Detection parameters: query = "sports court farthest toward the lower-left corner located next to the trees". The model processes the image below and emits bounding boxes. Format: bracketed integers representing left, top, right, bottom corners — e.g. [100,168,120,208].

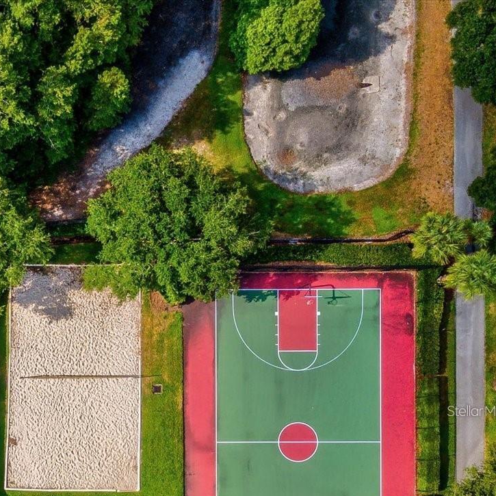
[4,264,142,494]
